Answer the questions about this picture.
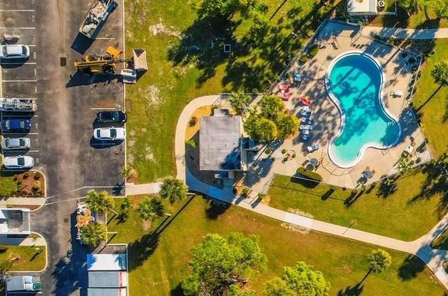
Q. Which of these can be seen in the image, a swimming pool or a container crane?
swimming pool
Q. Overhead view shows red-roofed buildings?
No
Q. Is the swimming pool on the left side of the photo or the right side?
right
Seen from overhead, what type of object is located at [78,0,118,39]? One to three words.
trailer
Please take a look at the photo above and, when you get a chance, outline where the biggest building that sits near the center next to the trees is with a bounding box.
[198,107,251,178]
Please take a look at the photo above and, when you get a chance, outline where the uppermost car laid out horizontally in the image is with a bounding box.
[0,44,29,59]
